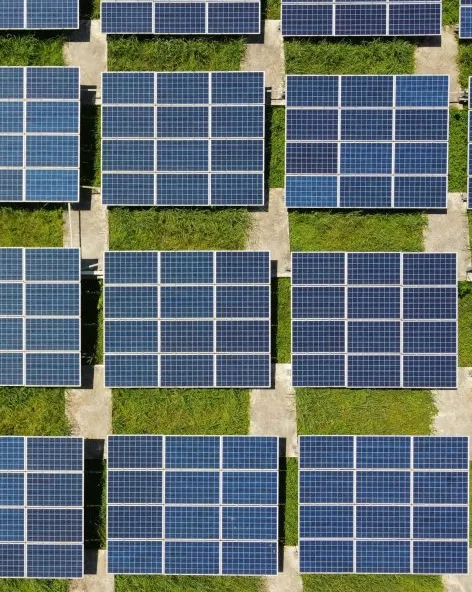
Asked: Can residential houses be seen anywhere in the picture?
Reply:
No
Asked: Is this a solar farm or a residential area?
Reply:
solar farm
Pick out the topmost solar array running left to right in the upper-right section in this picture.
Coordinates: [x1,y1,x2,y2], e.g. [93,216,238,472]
[279,0,441,36]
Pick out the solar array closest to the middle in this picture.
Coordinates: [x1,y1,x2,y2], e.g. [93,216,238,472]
[105,251,272,386]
